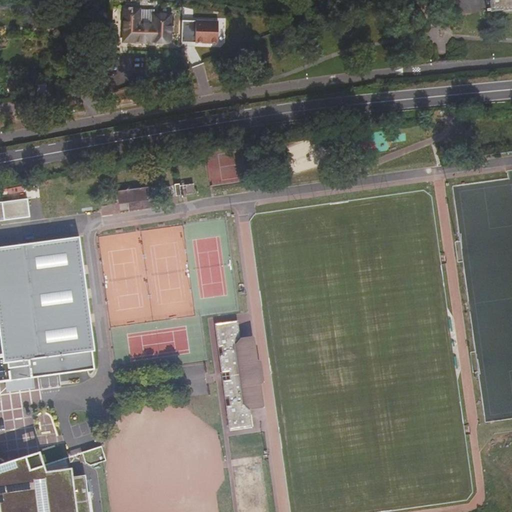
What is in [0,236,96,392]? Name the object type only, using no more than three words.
building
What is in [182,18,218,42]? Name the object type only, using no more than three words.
house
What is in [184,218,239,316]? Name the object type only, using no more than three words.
tennis court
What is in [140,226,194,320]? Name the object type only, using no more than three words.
tennis court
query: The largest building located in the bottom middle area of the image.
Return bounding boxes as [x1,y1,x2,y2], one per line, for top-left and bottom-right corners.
[215,320,254,431]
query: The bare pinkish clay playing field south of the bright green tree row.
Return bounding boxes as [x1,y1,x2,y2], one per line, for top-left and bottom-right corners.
[106,404,224,512]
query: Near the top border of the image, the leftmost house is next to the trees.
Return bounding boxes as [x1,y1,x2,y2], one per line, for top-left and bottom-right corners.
[122,5,172,44]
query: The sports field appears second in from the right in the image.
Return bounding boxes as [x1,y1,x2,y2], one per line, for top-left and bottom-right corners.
[252,191,471,512]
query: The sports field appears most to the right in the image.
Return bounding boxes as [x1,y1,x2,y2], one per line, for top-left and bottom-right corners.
[452,170,512,424]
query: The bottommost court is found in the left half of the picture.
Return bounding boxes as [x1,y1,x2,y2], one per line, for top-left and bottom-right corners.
[111,315,208,371]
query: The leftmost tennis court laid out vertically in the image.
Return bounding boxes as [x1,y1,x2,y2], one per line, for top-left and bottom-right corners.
[100,232,152,326]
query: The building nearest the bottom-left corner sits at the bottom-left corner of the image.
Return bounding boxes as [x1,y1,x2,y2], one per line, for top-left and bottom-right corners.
[0,450,96,512]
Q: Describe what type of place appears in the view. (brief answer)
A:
sports ground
